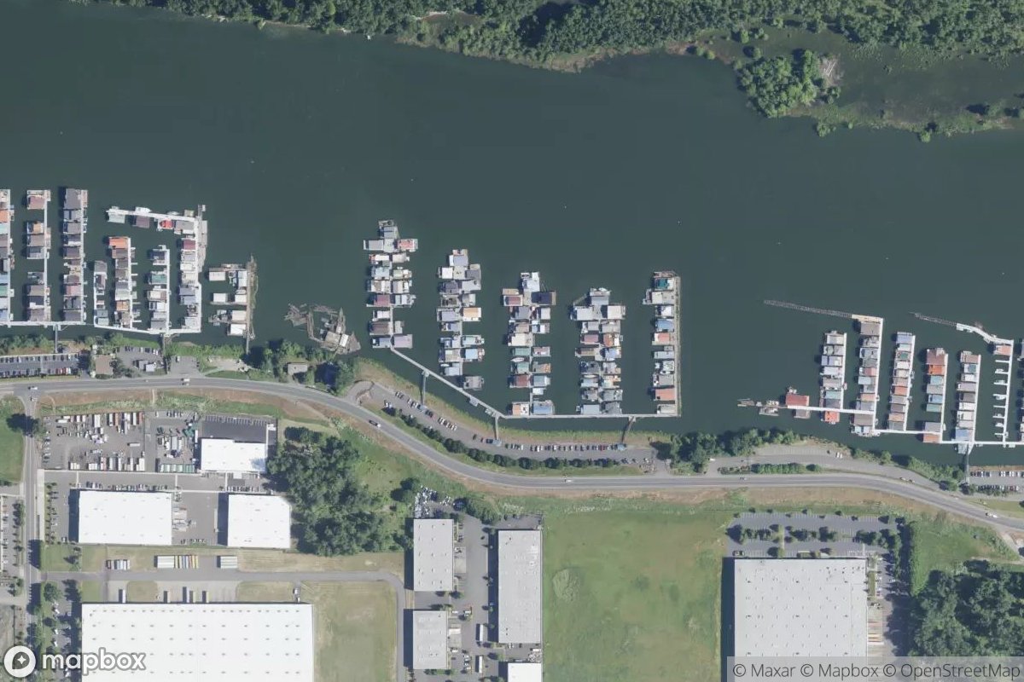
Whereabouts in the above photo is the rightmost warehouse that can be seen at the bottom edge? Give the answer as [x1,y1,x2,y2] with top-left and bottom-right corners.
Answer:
[734,559,867,682]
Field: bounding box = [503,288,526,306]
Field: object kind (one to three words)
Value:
house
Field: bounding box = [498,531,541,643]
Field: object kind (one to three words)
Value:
building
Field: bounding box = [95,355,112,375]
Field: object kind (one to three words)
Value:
house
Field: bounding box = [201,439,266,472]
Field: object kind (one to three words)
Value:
building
